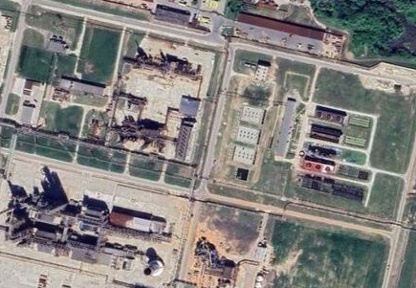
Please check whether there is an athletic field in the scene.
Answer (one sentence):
No, there appears to be no athletic field in this shot.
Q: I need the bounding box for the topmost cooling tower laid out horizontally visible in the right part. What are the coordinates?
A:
[315,106,352,124]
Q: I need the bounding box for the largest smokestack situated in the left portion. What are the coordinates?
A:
[144,250,174,279]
